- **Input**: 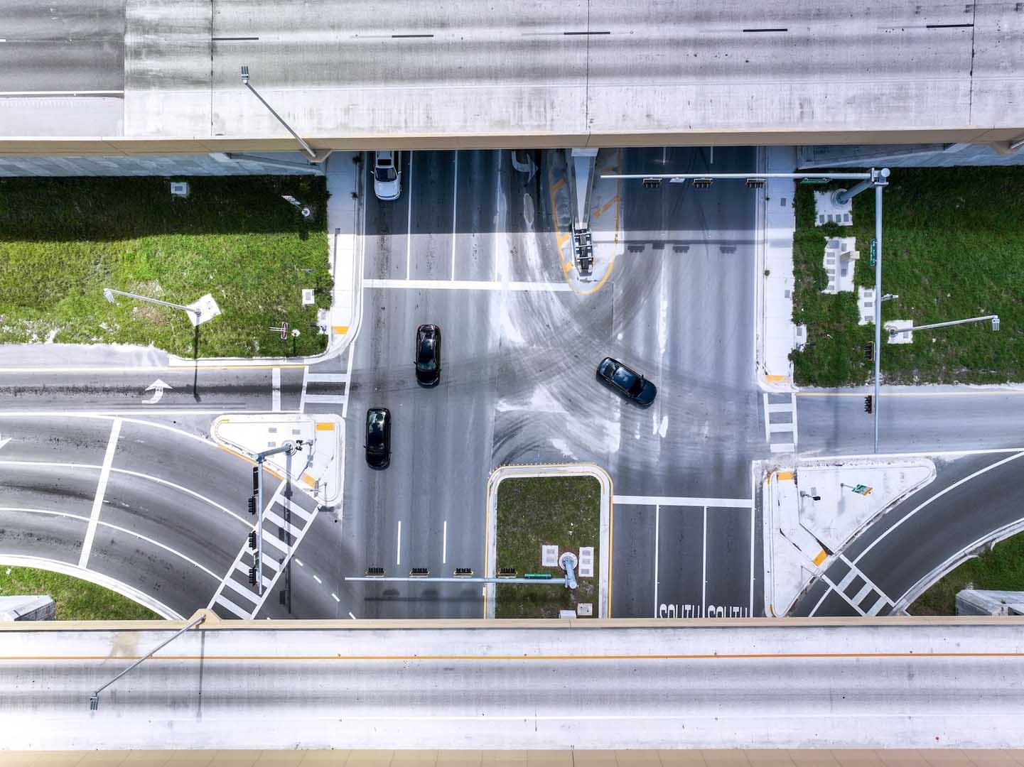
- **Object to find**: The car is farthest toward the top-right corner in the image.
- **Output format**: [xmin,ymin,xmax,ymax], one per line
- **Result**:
[596,360,655,405]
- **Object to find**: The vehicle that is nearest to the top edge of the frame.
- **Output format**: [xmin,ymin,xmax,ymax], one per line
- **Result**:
[371,151,402,199]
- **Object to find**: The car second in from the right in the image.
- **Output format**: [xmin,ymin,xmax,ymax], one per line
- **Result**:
[413,326,442,387]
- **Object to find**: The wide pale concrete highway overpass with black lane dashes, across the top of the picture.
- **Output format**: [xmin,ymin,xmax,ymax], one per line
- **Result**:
[0,0,1024,163]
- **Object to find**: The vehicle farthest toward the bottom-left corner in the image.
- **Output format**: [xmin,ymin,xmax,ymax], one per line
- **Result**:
[363,409,393,469]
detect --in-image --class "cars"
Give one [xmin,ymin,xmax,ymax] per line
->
[363,409,393,469]
[371,151,402,199]
[413,326,442,387]
[596,360,655,405]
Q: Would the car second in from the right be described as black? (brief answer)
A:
Yes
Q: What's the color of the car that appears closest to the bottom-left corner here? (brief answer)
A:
black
